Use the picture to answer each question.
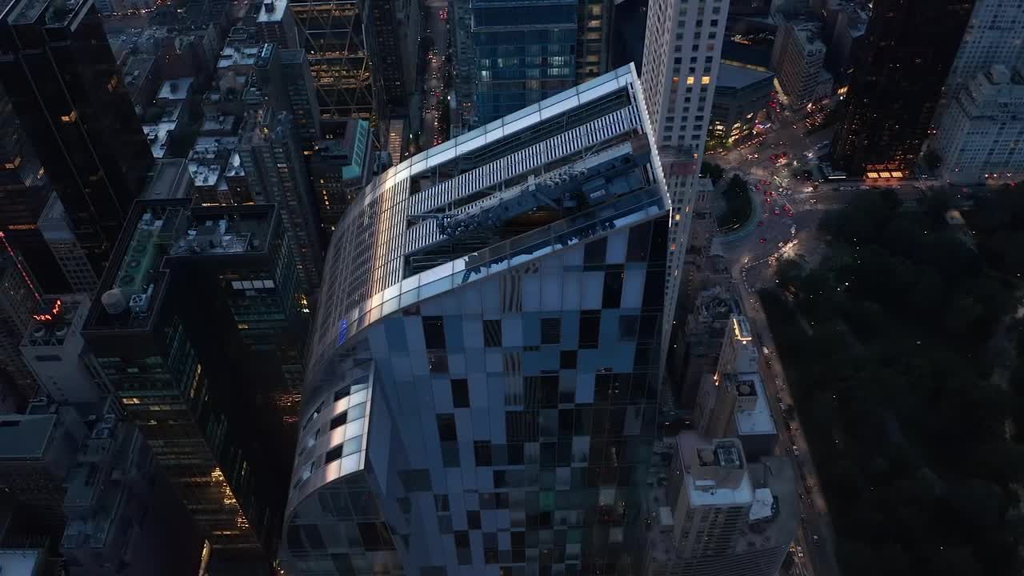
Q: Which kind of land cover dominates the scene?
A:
buildings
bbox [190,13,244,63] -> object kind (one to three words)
building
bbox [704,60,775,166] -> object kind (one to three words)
building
